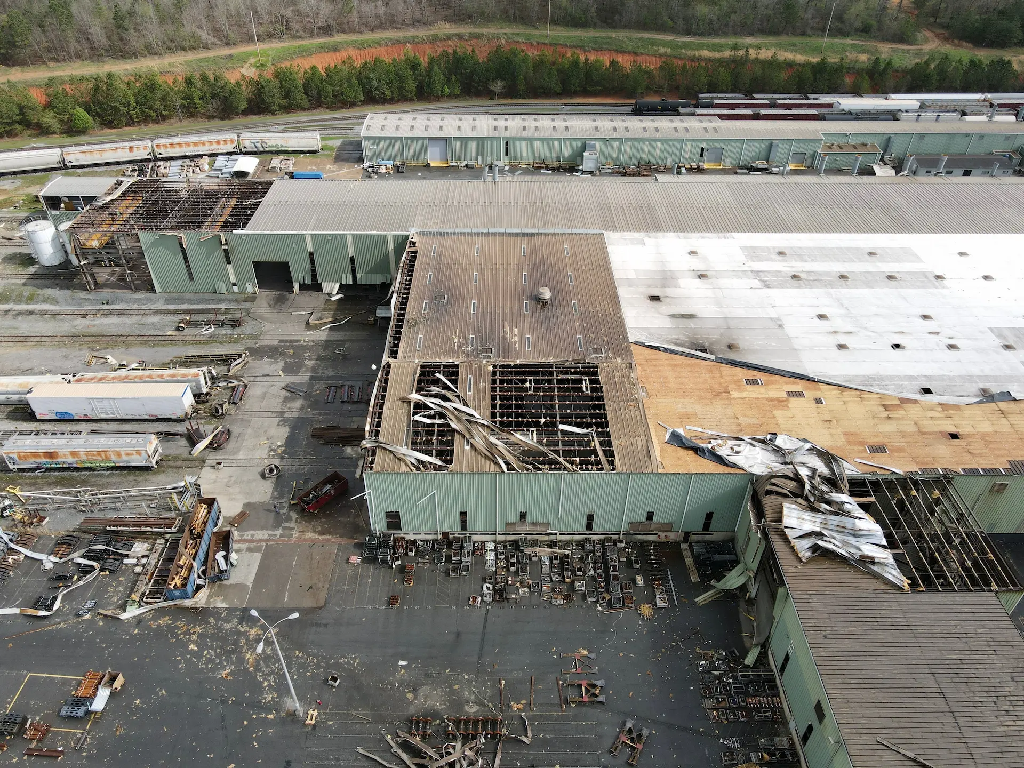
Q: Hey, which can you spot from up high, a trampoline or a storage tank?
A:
storage tank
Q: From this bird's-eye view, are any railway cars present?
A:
Yes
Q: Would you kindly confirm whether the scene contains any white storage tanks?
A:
Yes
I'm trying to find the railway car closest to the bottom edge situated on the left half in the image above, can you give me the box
[6,431,166,466]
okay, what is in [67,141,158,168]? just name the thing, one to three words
rail car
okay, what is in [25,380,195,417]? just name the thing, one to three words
rail car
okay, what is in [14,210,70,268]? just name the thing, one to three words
storage tank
